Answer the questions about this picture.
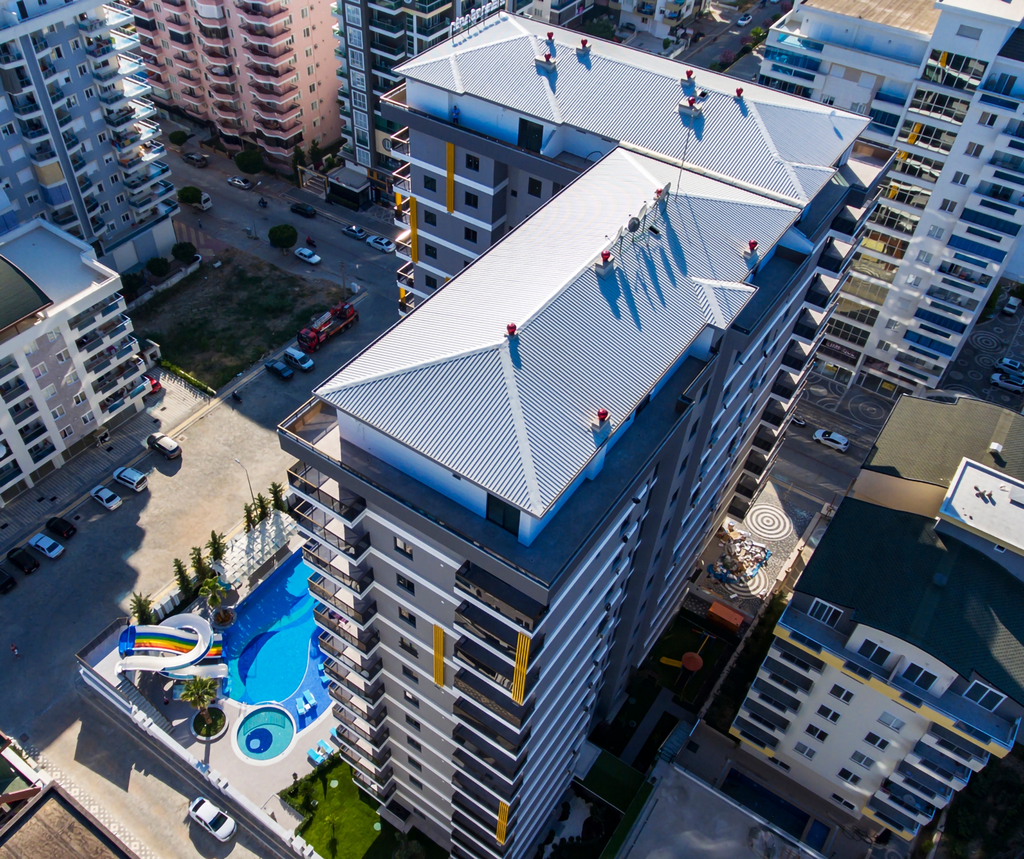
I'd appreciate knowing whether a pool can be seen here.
Yes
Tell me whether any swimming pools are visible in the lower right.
Yes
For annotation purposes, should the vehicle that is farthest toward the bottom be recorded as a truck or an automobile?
automobile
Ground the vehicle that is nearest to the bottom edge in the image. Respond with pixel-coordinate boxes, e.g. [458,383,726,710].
[179,798,240,847]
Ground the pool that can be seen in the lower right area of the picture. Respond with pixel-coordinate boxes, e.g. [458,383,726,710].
[713,756,834,858]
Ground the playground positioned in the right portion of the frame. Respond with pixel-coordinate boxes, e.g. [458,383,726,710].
[633,621,734,731]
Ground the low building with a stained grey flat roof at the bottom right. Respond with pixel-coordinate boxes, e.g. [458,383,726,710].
[614,763,819,859]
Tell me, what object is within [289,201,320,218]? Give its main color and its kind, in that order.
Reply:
black car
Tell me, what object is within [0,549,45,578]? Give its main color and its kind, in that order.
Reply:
black car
